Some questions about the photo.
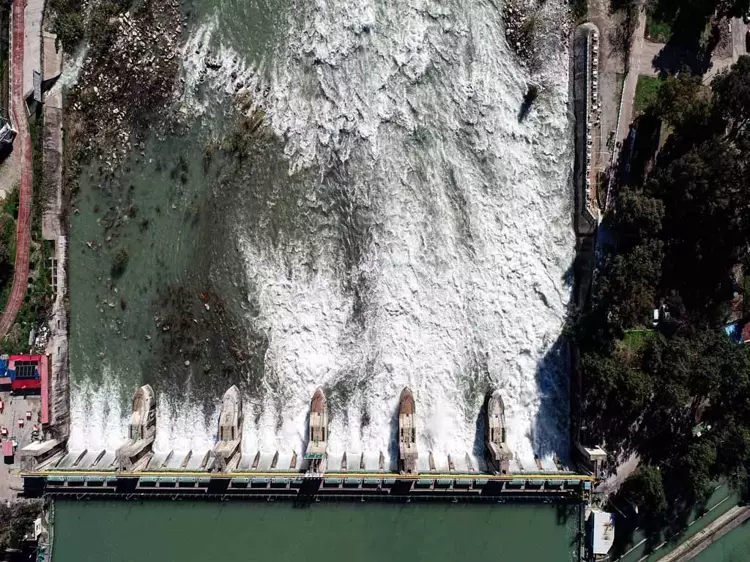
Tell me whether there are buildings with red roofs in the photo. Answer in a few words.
Yes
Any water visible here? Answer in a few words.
Yes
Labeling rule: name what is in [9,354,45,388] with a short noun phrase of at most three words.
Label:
building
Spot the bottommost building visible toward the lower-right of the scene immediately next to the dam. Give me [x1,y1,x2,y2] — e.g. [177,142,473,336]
[589,507,614,554]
